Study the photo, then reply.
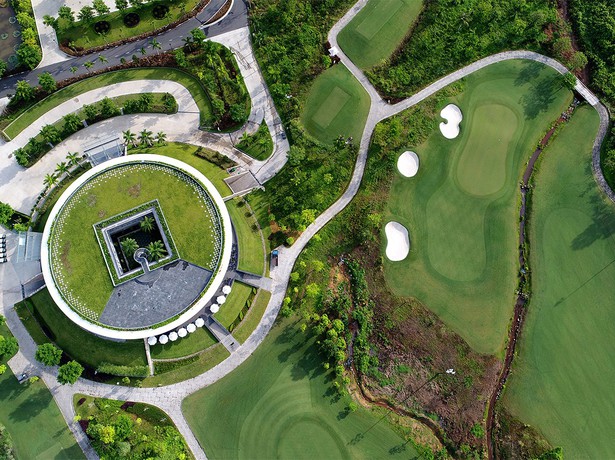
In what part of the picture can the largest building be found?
left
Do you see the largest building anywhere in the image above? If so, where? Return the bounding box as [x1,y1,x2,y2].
[41,153,232,337]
